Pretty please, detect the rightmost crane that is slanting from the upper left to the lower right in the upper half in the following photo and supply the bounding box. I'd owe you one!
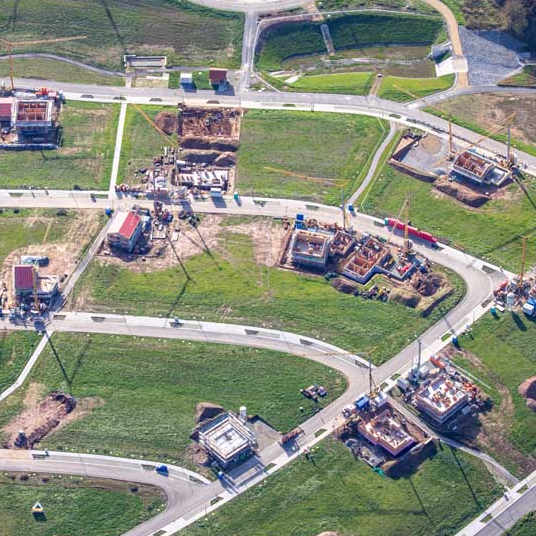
[265,166,361,238]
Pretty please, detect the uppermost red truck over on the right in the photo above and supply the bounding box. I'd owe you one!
[386,217,438,246]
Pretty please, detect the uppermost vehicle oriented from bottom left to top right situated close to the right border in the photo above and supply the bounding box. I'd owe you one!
[491,272,513,293]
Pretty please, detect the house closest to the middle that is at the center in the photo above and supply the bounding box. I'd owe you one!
[292,230,331,267]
